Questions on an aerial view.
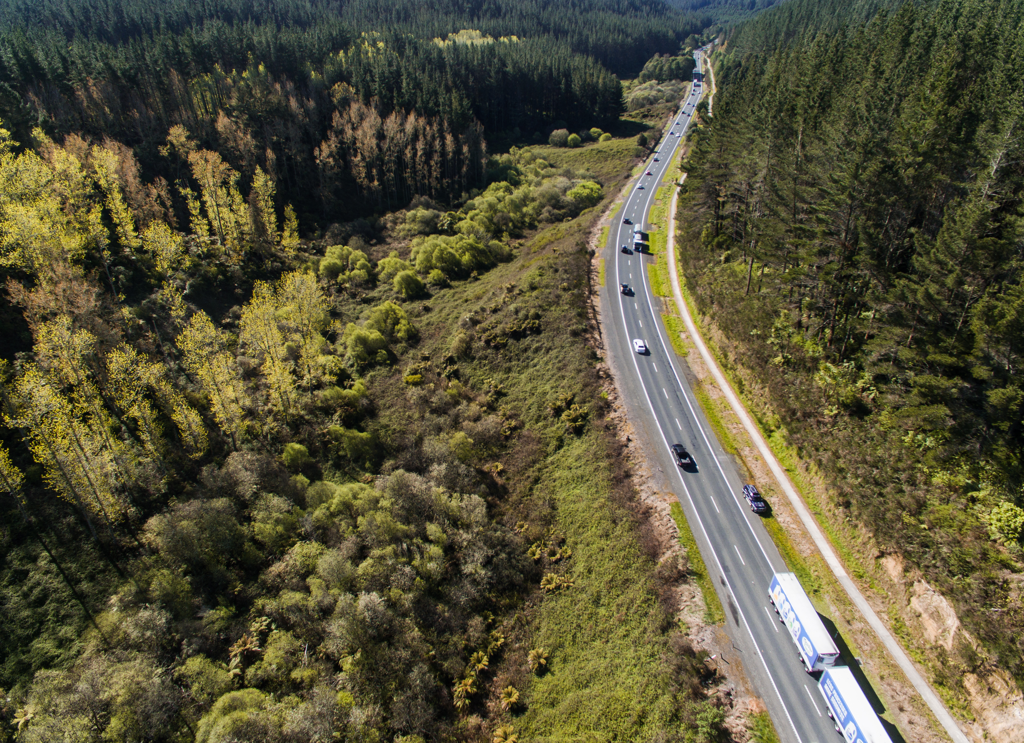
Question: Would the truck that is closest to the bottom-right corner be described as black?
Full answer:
No, the truck that is closest to the bottom-right corner is actually white.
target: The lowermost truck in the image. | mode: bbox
[818,665,894,743]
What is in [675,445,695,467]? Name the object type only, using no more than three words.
vehicle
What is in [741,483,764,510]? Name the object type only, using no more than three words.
car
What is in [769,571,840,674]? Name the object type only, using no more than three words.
trailer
